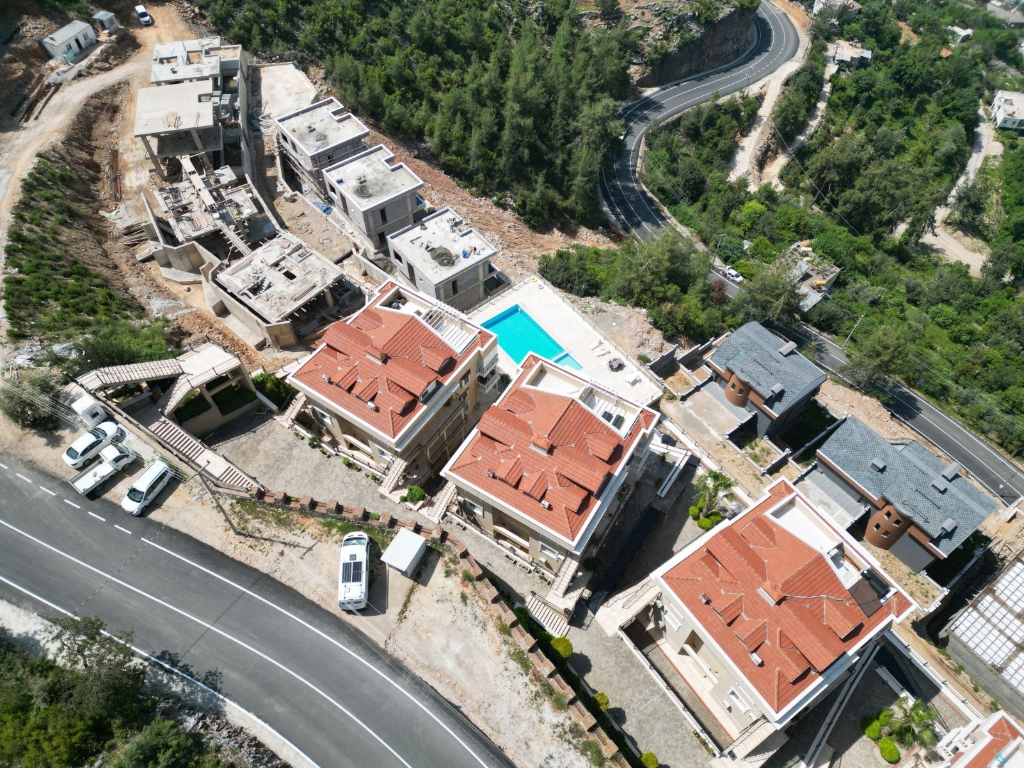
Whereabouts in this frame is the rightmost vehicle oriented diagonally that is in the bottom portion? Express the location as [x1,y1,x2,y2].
[119,456,180,519]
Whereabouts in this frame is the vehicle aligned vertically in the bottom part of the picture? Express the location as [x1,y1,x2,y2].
[335,533,372,618]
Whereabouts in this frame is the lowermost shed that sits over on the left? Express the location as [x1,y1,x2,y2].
[381,528,427,583]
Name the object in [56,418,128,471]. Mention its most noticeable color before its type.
white car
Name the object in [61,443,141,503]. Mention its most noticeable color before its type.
white truck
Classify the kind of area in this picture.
residential area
